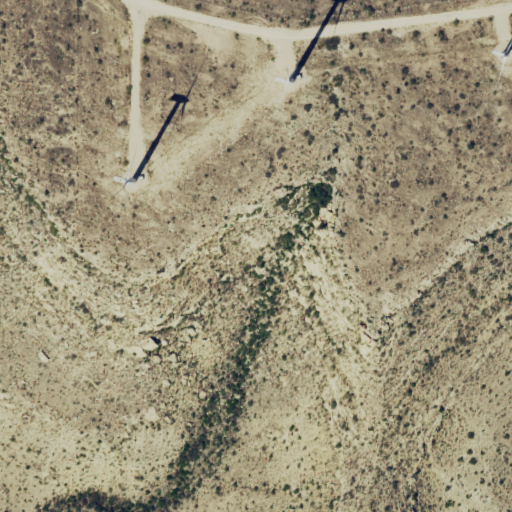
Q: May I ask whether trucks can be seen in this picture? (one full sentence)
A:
No, there appears to be no truck in this shot.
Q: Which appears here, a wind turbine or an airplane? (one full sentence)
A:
Visible in the photo is a wind turbine.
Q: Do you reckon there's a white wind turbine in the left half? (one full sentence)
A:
Yes, in the left half there is a white wind turbine.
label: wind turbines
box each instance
[113,156,140,220]
[273,56,299,118]
[490,40,512,94]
